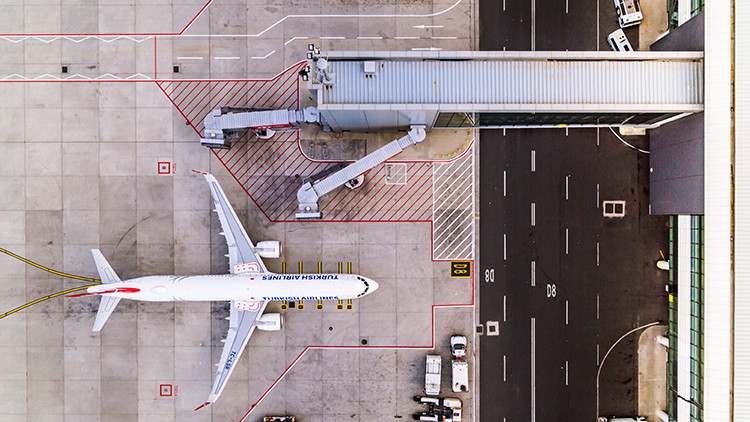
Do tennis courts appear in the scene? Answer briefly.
No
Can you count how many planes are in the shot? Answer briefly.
1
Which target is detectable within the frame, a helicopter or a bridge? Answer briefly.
bridge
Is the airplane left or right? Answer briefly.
left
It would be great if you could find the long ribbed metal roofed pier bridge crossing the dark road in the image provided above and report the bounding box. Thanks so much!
[308,51,704,132]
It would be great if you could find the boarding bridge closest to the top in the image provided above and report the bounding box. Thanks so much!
[201,103,328,150]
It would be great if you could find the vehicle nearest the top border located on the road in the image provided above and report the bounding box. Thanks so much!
[607,0,639,33]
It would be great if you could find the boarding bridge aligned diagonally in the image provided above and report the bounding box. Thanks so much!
[297,123,426,221]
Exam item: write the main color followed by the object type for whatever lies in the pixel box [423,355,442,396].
white vehicle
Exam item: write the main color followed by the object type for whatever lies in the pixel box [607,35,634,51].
white vehicle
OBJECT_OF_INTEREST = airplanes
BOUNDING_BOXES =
[64,170,379,413]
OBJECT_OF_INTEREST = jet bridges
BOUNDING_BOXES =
[201,103,328,150]
[297,123,426,221]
